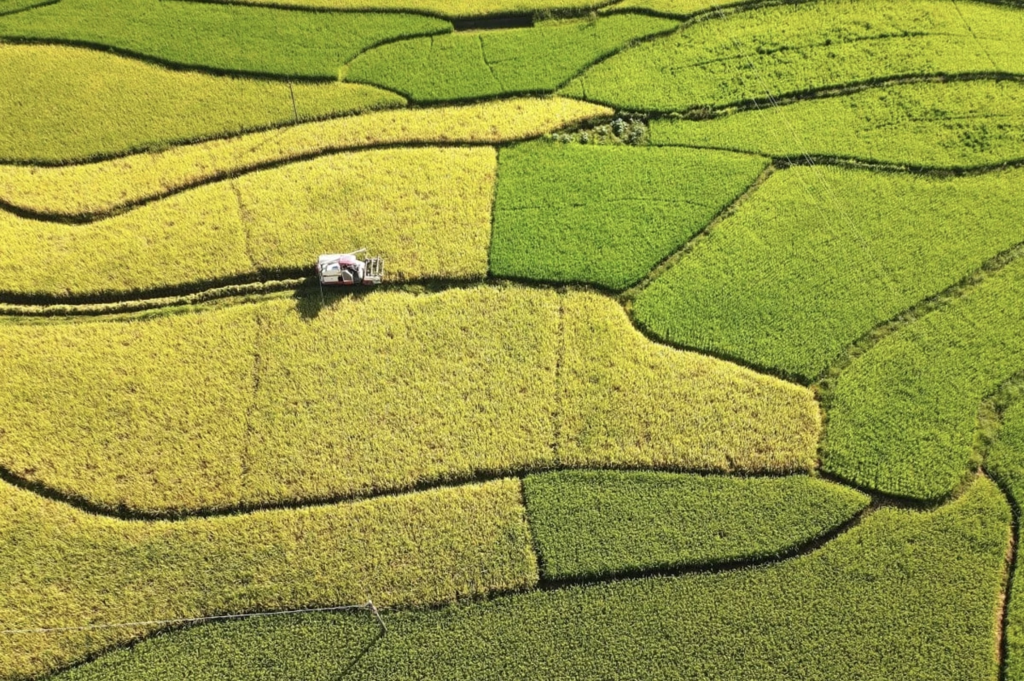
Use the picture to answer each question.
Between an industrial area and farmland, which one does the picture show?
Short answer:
farmland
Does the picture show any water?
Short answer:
No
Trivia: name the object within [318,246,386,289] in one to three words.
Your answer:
work vehicle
